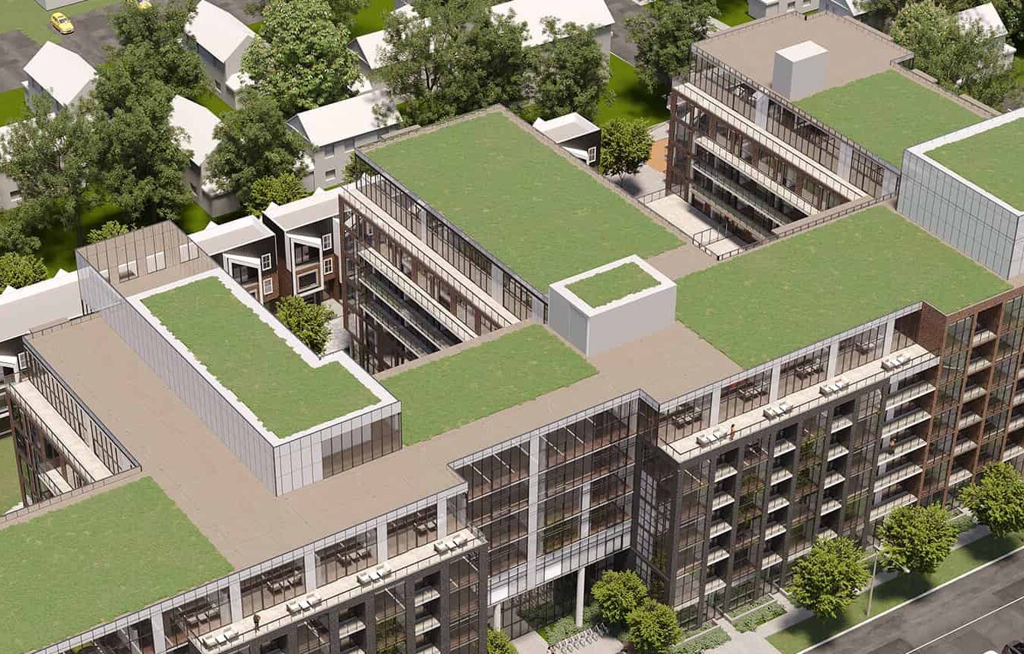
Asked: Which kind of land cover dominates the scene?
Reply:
buildings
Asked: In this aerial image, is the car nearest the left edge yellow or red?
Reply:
yellow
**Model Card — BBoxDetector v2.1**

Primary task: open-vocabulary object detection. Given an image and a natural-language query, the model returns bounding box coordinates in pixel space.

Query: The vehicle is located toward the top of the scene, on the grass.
[49,13,74,33]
